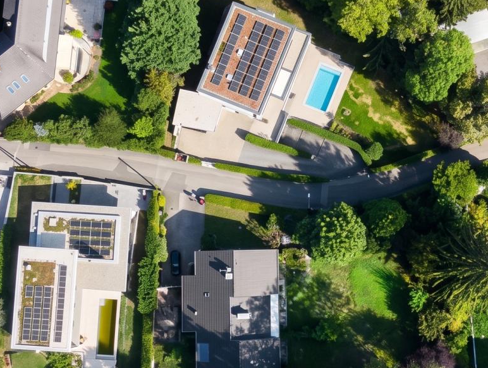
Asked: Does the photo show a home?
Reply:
Yes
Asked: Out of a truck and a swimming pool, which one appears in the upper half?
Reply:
swimming pool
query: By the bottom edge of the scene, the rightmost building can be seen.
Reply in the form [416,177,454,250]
[181,248,287,368]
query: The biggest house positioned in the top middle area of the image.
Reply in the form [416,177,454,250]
[197,2,312,124]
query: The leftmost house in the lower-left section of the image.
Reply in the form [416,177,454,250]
[11,201,137,351]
